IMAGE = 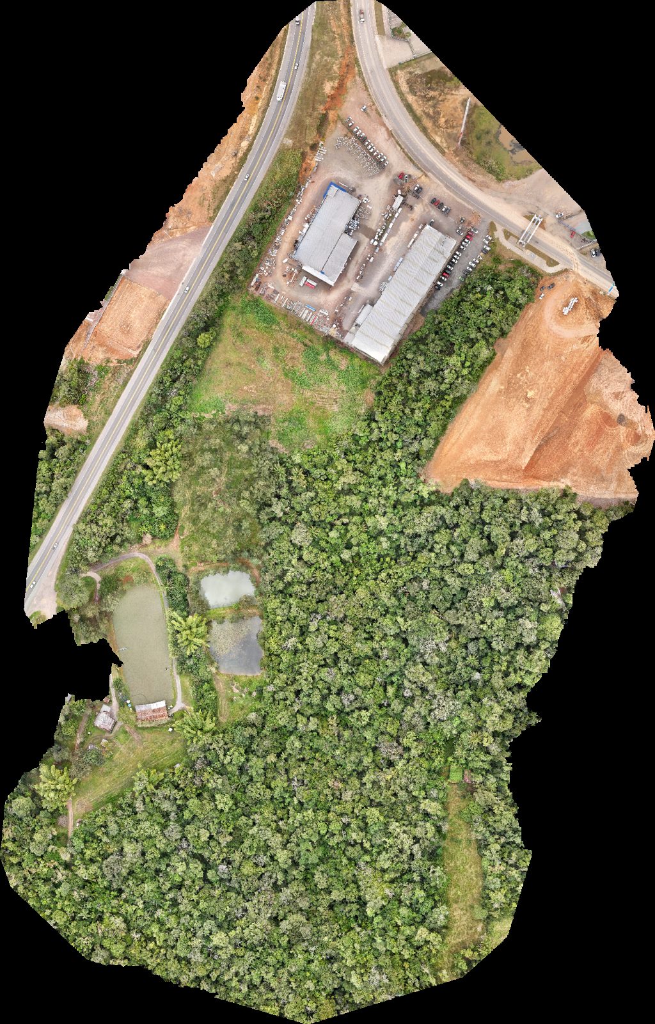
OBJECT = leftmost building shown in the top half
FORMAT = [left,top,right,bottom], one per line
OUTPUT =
[293,181,361,286]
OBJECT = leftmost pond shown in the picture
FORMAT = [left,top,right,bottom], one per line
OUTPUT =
[113,585,172,706]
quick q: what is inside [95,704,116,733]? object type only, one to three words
house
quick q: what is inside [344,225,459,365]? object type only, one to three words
building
